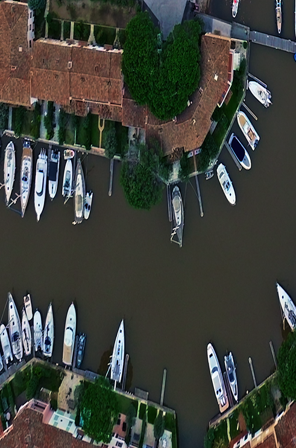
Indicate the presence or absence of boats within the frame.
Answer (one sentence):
Yes, the picture does show a boat.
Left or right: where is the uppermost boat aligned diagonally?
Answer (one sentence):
You can find the uppermost boat aligned diagonally on the right side of the picture.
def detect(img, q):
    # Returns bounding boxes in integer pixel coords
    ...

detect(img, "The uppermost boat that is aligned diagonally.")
[249,79,271,111]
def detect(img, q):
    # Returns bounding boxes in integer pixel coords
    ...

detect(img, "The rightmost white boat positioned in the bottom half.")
[277,283,296,330]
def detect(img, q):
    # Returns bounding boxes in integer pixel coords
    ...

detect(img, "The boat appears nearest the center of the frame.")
[168,184,185,248]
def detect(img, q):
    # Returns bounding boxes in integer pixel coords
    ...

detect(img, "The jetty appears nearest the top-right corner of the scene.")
[249,28,296,53]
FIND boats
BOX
[208,343,228,412]
[237,112,260,154]
[1,324,14,368]
[0,140,17,206]
[277,283,296,330]
[34,310,43,354]
[64,147,75,164]
[249,79,271,111]
[62,302,77,369]
[275,0,282,34]
[225,347,237,403]
[0,292,24,361]
[10,309,32,355]
[33,149,50,223]
[168,184,185,248]
[233,0,238,18]
[85,188,93,219]
[0,141,33,218]
[216,158,234,206]
[77,330,86,367]
[62,161,72,201]
[105,320,127,382]
[25,291,32,320]
[59,158,85,224]
[49,147,61,201]
[33,303,55,356]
